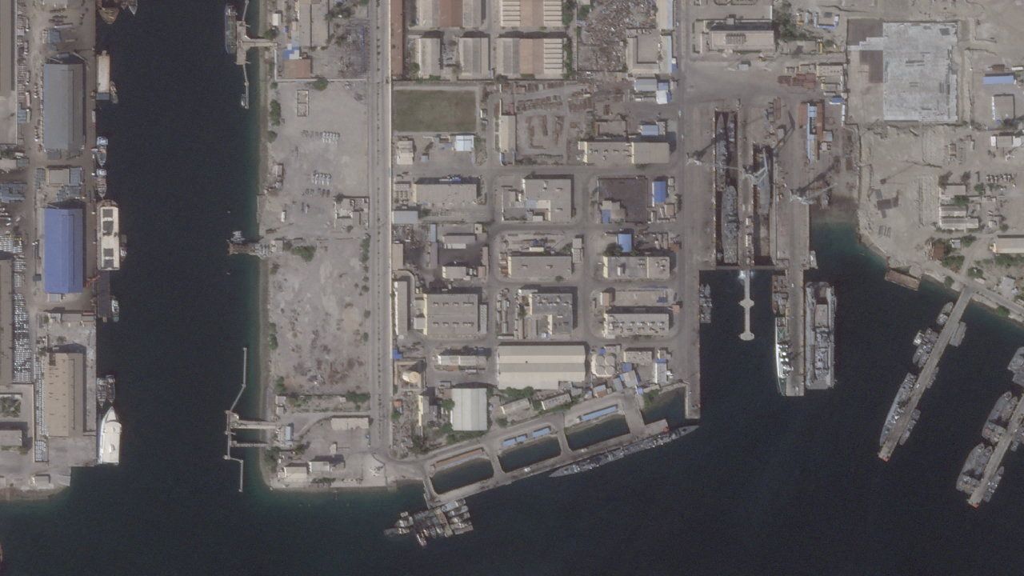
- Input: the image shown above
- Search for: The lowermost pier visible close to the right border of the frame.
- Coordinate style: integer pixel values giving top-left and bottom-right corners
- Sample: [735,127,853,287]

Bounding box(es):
[969,393,1024,508]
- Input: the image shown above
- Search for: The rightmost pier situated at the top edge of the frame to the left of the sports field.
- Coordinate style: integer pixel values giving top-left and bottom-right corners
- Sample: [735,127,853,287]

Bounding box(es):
[234,0,277,109]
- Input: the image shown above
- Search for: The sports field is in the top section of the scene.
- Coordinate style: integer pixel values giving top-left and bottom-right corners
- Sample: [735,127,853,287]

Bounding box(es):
[394,86,480,134]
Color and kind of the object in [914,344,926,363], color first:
gray boat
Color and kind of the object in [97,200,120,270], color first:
white ship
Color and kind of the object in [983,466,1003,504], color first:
gray boat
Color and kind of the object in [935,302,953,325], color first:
gray ship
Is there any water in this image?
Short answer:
Yes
